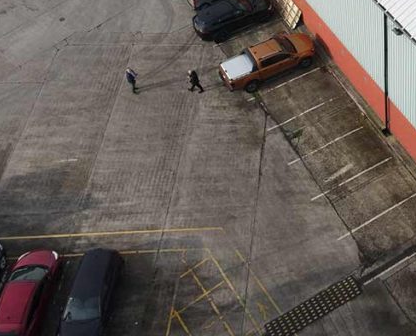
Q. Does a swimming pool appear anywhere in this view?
No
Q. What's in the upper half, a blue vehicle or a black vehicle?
black vehicle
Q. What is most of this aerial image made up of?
paved ground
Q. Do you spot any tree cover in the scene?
No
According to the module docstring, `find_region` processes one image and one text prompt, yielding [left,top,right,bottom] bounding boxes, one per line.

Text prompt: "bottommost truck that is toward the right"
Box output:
[219,30,316,95]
